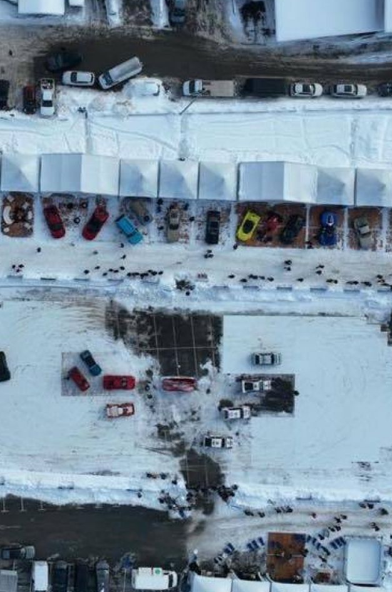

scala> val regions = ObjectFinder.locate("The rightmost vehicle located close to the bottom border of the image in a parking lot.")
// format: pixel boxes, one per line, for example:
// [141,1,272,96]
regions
[131,564,177,592]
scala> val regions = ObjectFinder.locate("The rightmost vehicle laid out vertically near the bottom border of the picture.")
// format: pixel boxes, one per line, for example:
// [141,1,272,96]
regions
[95,558,110,592]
